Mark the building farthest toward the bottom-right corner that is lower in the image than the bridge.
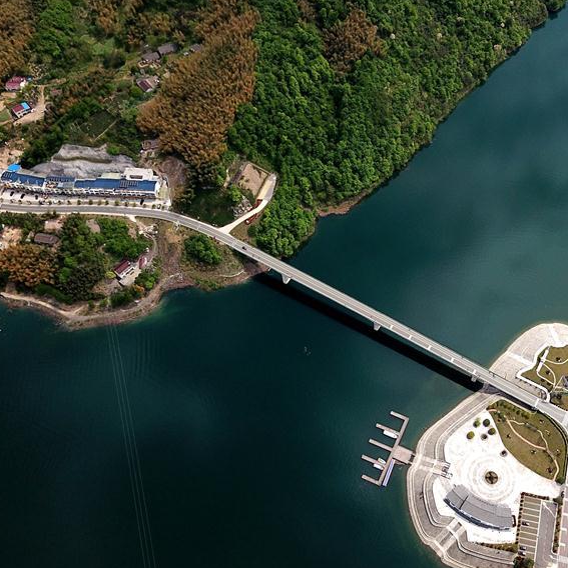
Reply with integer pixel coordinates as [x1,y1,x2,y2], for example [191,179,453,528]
[443,486,512,531]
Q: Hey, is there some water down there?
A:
Yes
